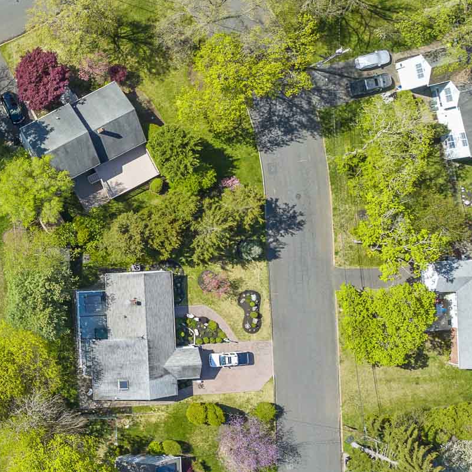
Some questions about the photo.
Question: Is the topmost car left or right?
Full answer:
You can find the topmost car on the right side of the picture.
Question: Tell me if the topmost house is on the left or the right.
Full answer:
It is on the right.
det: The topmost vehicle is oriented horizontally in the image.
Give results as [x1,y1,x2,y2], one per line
[353,50,392,71]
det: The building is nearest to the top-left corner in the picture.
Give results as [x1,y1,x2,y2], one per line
[16,81,147,190]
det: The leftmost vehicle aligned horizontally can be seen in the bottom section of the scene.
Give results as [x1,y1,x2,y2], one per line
[208,351,255,369]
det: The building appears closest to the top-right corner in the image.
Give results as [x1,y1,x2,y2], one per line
[399,47,463,91]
